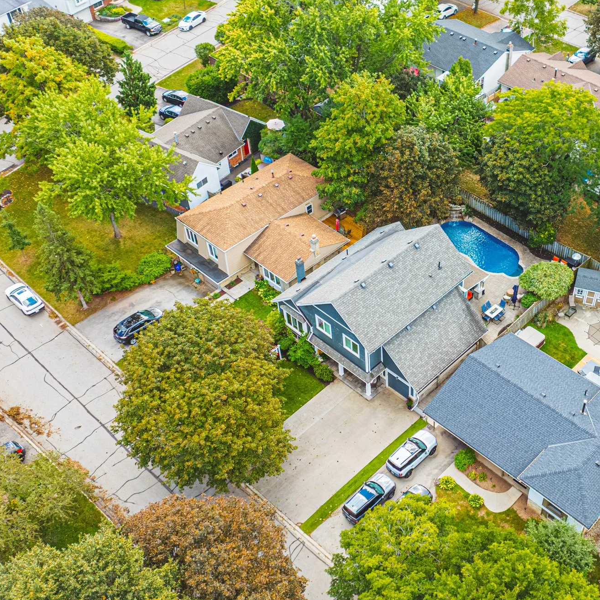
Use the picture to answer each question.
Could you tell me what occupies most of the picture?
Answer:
trees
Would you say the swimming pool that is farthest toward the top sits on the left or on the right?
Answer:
right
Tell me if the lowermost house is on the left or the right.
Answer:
right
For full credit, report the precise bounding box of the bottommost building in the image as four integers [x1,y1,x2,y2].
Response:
[422,332,600,538]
